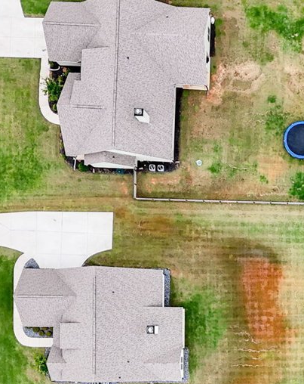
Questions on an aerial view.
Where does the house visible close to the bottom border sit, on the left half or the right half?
left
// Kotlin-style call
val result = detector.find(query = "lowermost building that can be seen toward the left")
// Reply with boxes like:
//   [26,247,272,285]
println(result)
[15,267,186,382]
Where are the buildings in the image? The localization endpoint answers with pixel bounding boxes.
[42,0,212,170]
[15,267,186,382]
